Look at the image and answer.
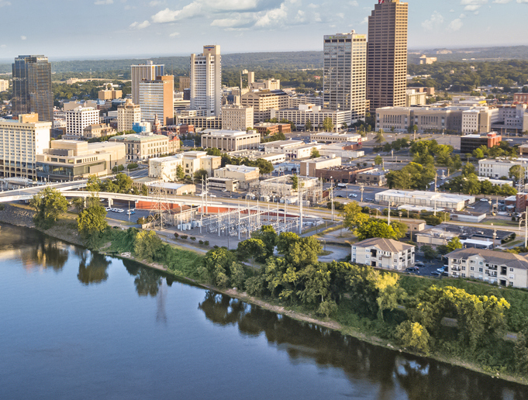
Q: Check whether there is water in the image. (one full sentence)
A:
Yes, there's water in this view.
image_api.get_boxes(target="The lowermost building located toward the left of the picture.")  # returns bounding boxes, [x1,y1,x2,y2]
[167,207,198,226]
